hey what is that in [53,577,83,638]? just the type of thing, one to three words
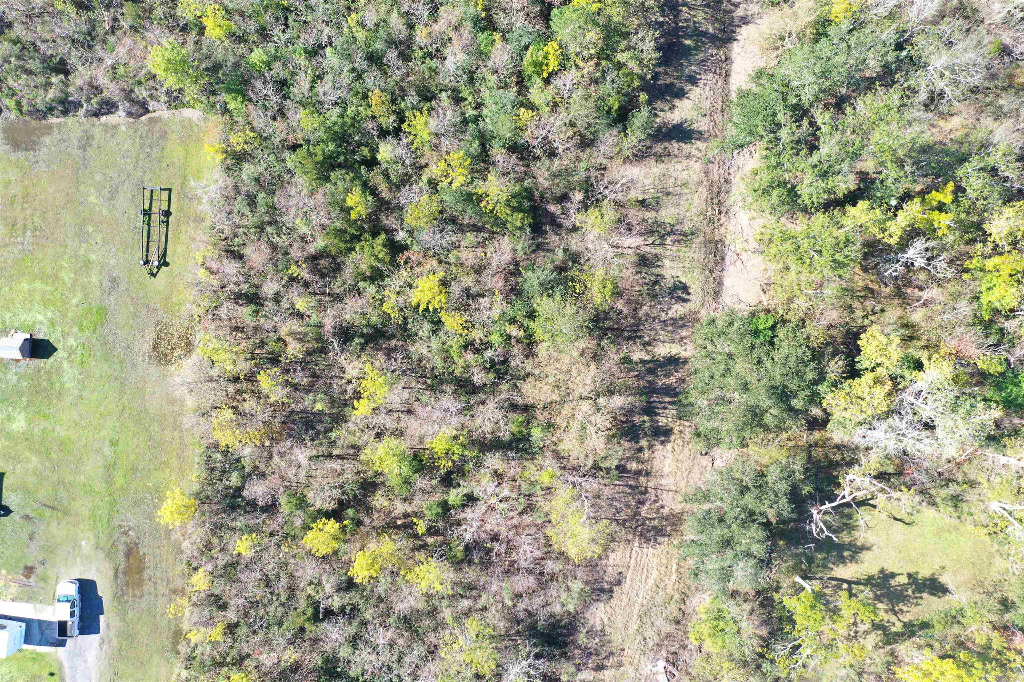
truck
